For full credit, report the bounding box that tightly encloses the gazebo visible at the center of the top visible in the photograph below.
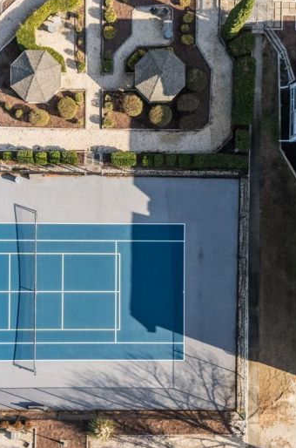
[133,48,187,105]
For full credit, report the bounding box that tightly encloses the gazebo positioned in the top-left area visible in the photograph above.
[9,49,63,105]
